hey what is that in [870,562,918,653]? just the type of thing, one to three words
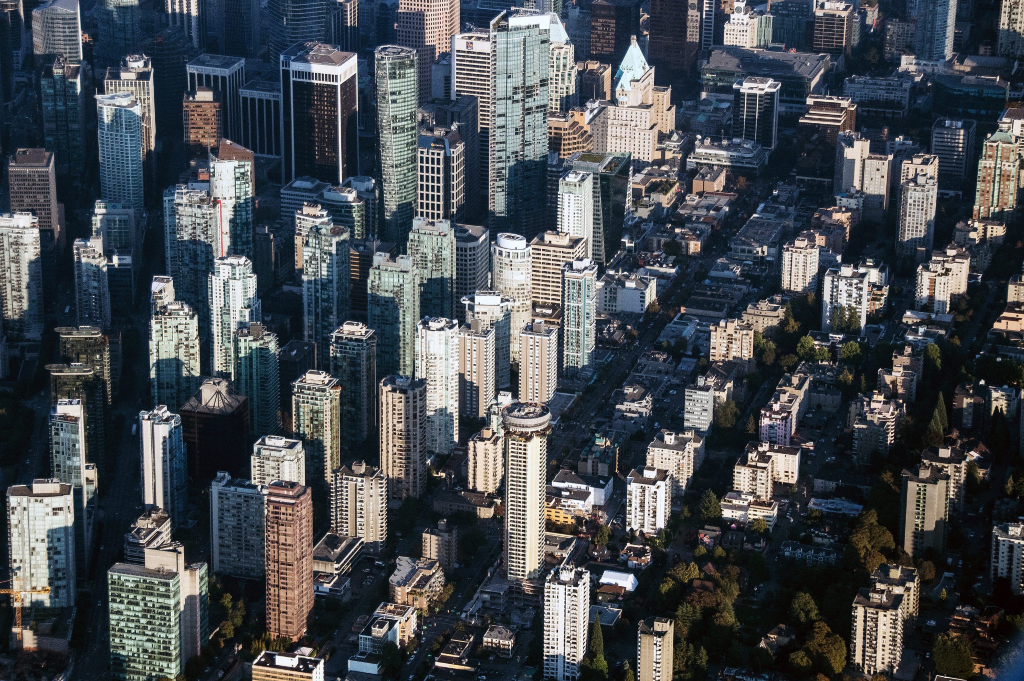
building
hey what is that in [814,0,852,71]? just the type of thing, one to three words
building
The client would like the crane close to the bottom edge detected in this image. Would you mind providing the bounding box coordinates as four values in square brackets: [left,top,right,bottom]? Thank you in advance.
[0,578,52,656]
